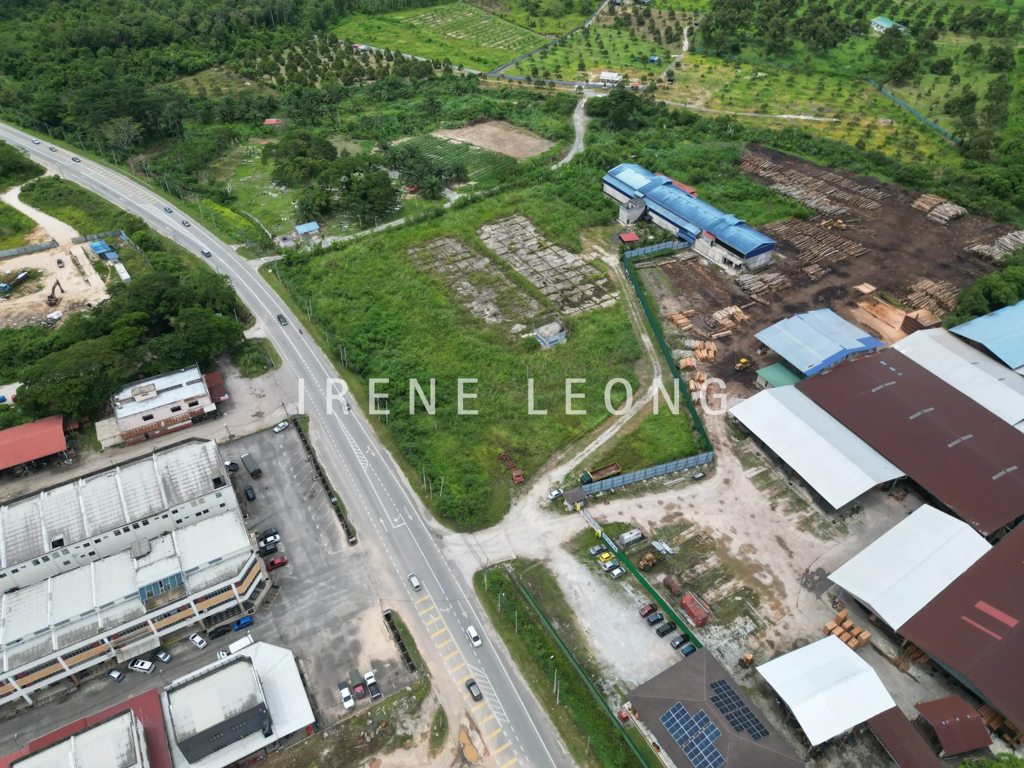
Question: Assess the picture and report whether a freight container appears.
Yes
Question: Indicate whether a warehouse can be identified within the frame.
Yes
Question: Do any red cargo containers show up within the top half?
No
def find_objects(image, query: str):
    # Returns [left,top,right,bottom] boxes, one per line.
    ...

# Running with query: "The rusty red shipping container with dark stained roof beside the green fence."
[679,593,708,627]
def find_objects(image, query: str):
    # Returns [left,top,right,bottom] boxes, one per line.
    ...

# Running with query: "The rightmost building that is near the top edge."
[867,17,905,33]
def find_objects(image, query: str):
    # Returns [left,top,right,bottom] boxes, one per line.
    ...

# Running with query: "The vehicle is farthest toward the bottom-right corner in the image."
[727,647,759,675]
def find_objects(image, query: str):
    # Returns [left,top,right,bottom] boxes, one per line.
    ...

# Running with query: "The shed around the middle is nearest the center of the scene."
[533,321,567,347]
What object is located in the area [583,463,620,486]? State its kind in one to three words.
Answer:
truck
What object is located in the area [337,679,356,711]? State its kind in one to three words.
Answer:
vehicle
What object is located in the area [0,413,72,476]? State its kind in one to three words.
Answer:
building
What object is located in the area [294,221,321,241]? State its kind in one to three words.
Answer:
shed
